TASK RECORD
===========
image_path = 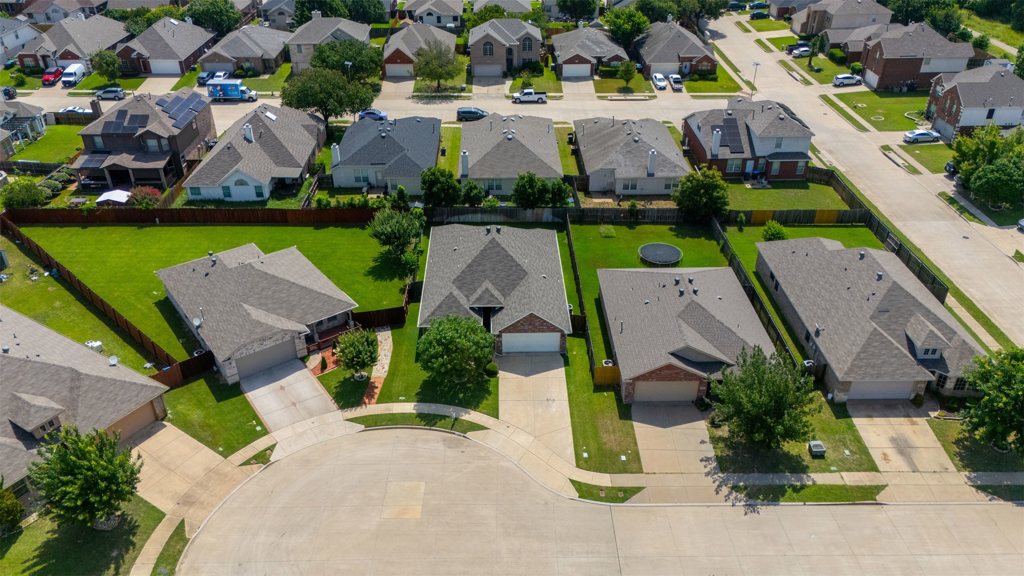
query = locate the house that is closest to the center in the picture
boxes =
[417,219,572,359]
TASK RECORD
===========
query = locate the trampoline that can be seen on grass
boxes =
[638,243,683,271]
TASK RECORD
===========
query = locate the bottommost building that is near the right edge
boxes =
[755,240,1000,404]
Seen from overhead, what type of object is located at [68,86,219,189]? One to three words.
house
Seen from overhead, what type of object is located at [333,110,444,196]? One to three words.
house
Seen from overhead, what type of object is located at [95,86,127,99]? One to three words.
vehicle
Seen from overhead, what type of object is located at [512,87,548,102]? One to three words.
vehicle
